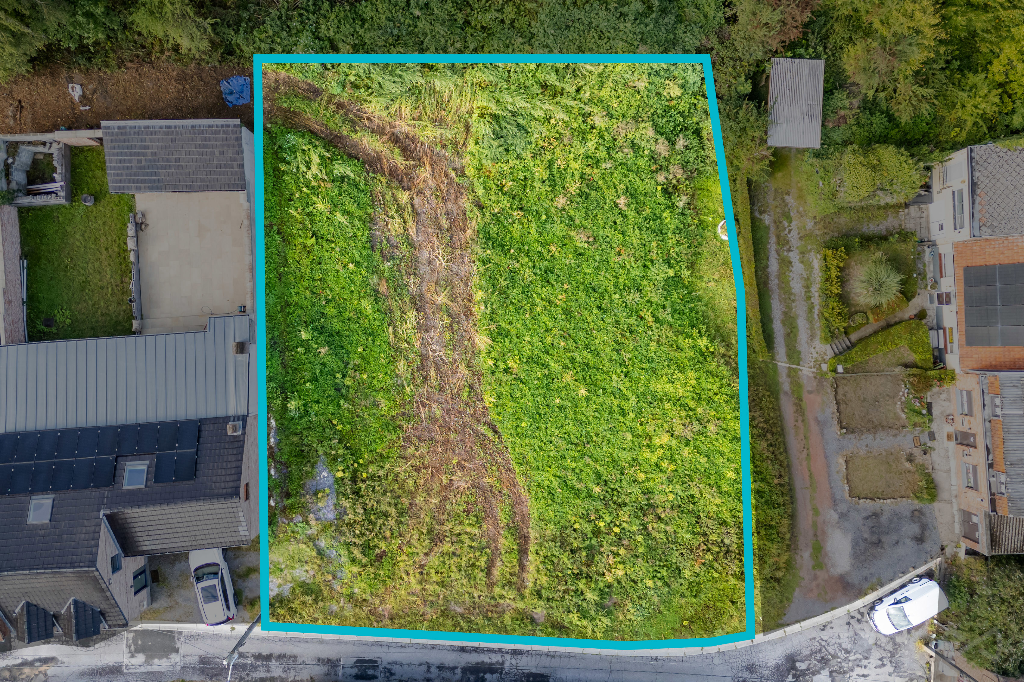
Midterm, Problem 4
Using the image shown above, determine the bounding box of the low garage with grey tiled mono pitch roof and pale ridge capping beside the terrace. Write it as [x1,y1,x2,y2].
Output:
[100,118,263,200]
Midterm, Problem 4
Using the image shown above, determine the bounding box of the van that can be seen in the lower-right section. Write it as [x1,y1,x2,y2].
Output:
[864,574,956,638]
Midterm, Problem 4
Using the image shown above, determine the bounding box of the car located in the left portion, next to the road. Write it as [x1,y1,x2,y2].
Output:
[190,549,242,627]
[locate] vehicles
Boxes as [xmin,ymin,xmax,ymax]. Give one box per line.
[190,549,242,627]
[864,574,956,638]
